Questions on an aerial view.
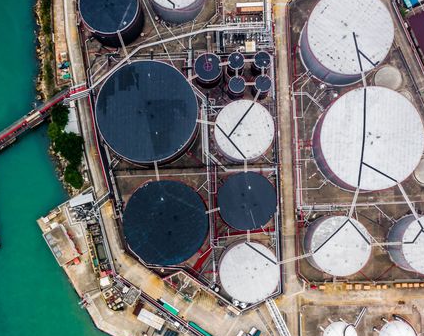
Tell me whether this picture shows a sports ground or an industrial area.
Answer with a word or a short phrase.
industrial area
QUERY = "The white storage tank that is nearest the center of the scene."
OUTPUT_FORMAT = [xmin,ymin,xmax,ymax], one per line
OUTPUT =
[205,92,282,172]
